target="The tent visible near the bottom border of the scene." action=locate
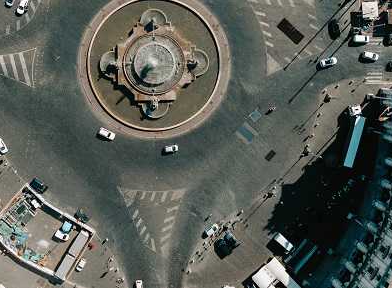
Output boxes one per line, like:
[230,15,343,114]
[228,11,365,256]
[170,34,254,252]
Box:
[248,257,298,288]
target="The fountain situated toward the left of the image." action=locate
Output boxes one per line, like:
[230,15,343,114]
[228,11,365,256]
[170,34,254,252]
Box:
[88,0,222,130]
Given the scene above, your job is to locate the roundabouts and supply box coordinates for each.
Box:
[18,0,291,201]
